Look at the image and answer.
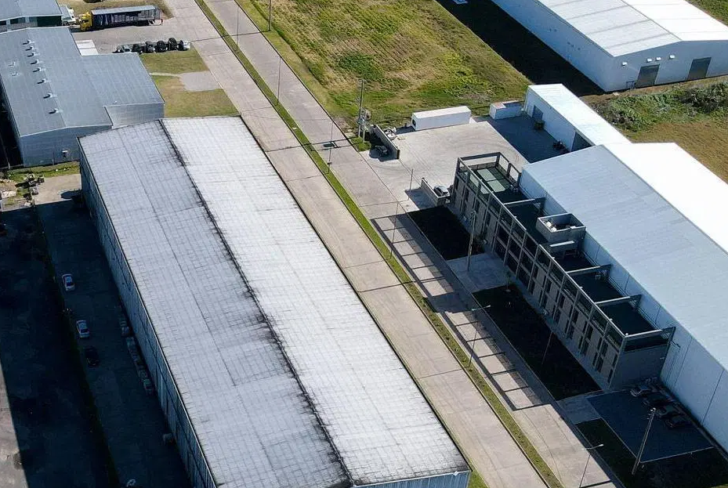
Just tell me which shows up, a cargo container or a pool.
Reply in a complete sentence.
This aerial view contains a cargo container.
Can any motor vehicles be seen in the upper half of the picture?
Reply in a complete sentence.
Yes, a motor vehicle can be seen in the upper half of the picture.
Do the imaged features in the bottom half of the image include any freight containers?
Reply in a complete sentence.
No, looking in the bottom half of the image, there is no freight container.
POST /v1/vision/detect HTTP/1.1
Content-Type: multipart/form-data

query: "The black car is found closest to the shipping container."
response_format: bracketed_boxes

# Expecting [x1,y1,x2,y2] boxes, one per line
[372,133,393,151]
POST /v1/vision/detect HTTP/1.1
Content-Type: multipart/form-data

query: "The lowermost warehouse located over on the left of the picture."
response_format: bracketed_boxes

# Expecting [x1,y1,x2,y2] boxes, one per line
[75,114,476,488]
